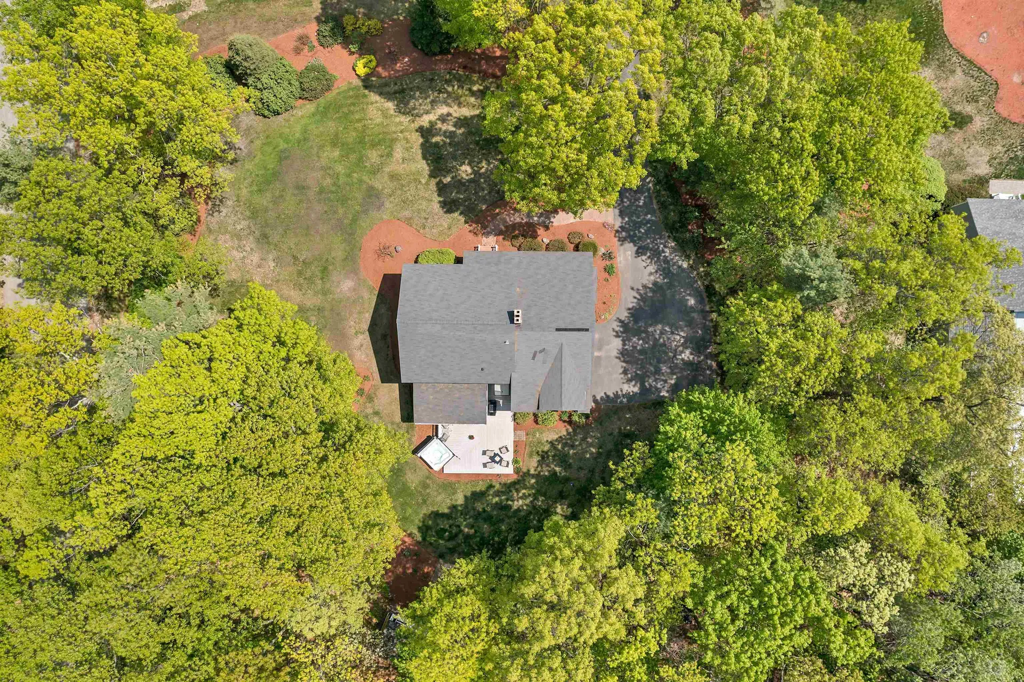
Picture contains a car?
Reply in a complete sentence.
No, no car is visible in the view.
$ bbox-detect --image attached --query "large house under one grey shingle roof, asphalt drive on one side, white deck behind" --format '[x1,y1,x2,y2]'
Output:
[395,251,597,426]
